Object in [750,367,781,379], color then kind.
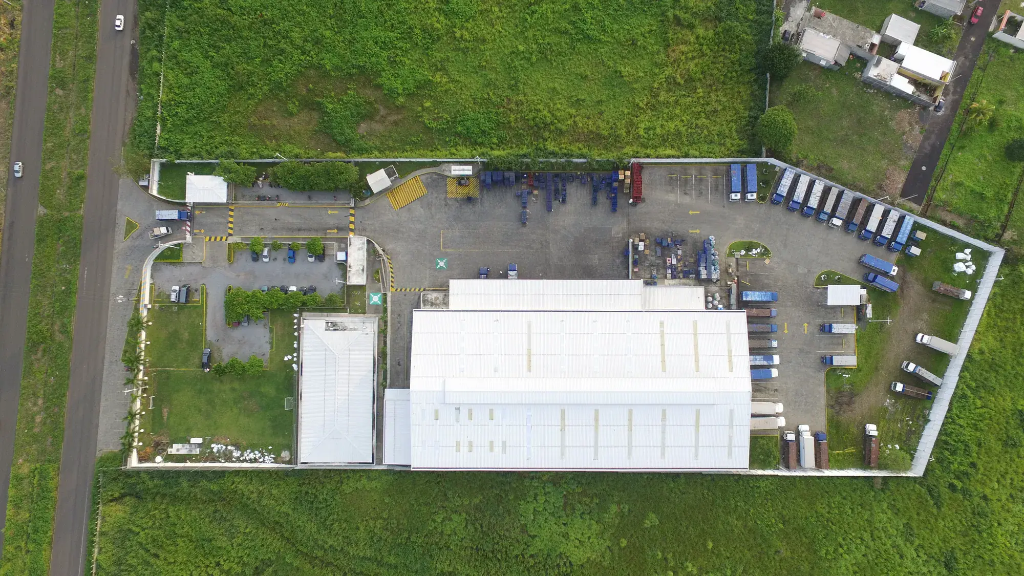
blue vehicle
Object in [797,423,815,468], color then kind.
white vehicle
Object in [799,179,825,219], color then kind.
white truck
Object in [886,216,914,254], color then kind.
blue truck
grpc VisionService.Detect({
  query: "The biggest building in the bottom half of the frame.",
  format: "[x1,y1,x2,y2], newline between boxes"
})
[410,309,752,471]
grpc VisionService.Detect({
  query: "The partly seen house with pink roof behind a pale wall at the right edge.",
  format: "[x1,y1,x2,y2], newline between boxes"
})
[992,11,1024,51]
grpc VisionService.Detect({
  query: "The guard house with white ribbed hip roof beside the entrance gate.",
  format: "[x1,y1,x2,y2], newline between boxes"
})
[186,172,230,203]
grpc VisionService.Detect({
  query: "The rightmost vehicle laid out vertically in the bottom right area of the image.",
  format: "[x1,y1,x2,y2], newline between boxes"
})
[864,423,879,466]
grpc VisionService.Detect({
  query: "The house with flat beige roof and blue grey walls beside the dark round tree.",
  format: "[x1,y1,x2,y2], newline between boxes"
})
[793,28,851,73]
